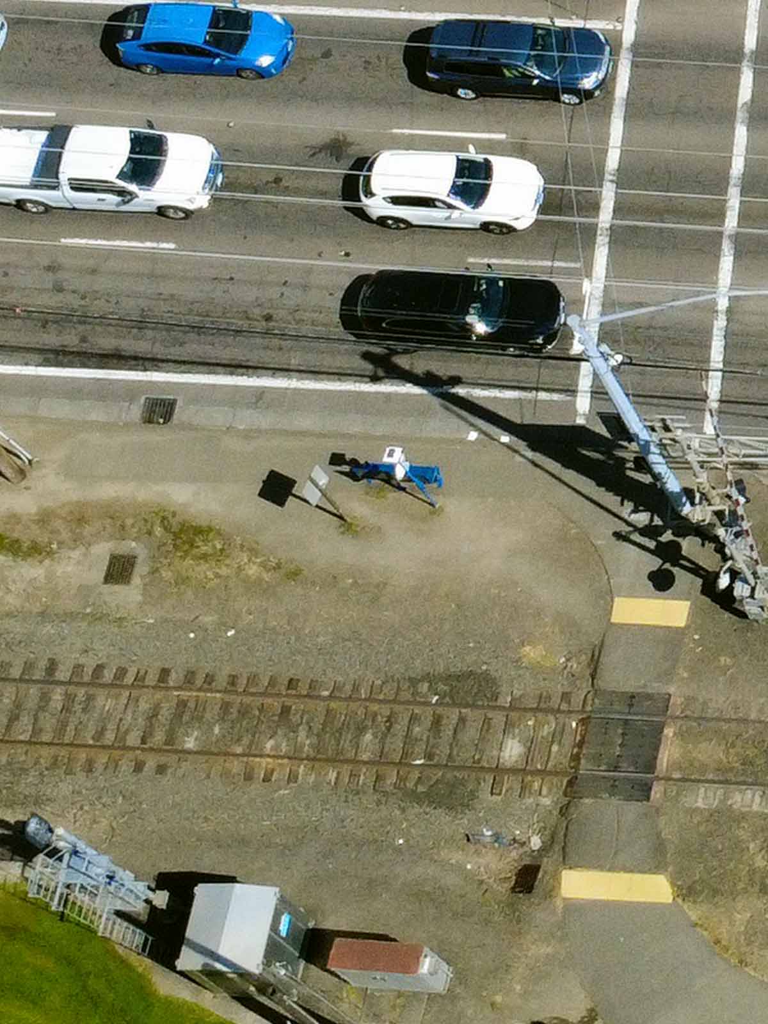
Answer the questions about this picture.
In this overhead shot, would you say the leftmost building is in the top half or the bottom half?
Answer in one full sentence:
The leftmost building sits in the bottom half of the picture.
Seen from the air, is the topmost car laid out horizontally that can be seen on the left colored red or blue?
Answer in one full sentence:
The topmost car laid out horizontally that can be seen on the left is blue.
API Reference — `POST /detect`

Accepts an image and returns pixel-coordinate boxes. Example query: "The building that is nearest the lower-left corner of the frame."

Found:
[175,883,323,993]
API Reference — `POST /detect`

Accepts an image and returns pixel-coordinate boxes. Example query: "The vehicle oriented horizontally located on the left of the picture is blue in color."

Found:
[118,0,298,79]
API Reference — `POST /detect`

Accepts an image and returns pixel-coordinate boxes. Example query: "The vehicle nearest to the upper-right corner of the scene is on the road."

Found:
[420,6,614,104]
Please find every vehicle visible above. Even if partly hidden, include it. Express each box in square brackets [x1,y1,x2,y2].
[118,0,298,79]
[420,6,614,104]
[356,139,547,232]
[349,258,567,357]
[0,120,222,218]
